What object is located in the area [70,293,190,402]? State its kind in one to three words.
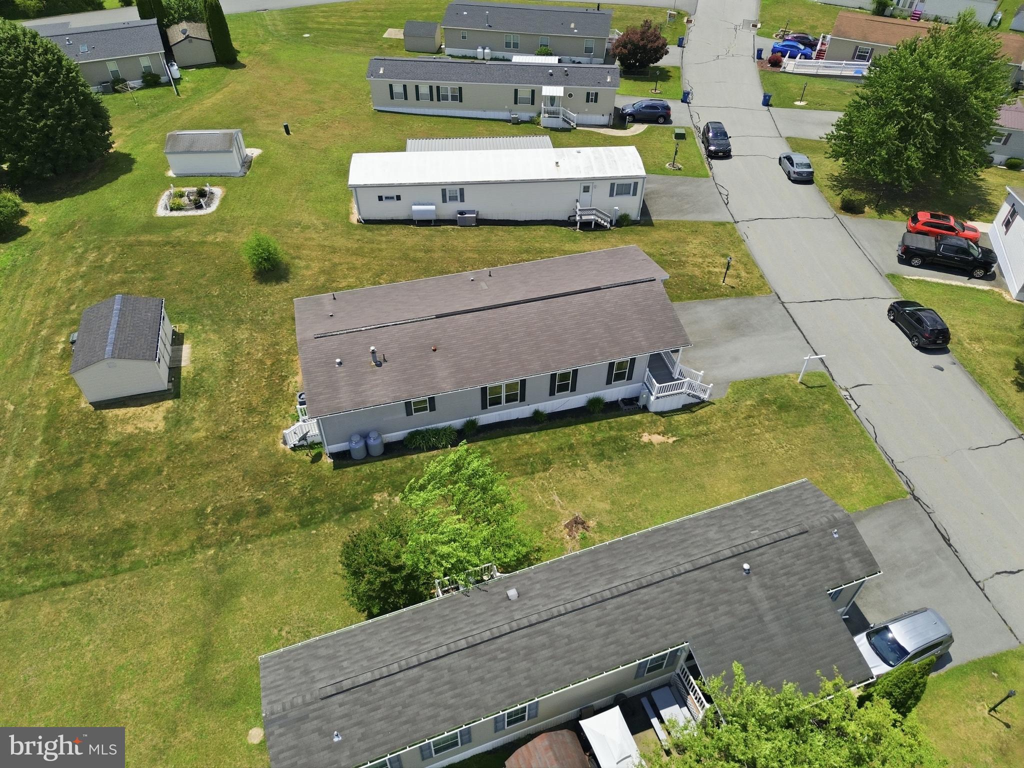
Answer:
shed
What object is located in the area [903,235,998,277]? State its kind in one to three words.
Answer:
truck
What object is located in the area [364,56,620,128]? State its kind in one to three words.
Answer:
house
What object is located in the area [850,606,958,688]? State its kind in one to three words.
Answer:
car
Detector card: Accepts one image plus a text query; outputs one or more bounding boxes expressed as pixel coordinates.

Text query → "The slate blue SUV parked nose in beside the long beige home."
[620,98,673,123]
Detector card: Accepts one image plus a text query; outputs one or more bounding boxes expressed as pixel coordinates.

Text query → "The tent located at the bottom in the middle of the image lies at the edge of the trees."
[579,706,646,768]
